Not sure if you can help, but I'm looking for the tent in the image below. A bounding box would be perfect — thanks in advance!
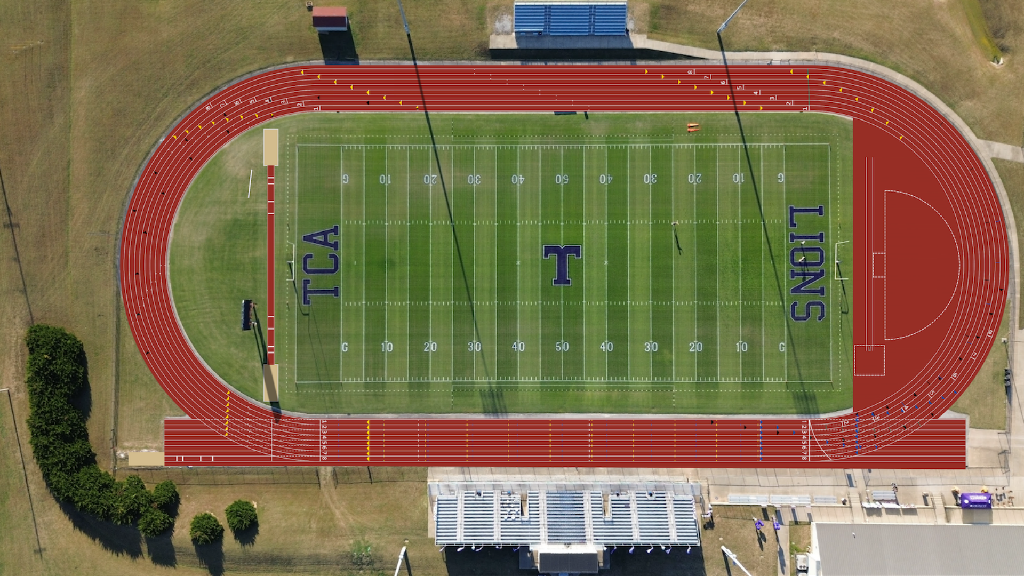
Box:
[956,491,991,508]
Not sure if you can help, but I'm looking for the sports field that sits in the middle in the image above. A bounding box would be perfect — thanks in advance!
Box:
[170,113,853,413]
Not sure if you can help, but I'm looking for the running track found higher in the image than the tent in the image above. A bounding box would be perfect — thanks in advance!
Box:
[120,65,1009,469]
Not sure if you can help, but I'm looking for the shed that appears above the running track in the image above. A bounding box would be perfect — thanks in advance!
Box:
[312,7,347,33]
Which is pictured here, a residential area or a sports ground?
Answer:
sports ground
